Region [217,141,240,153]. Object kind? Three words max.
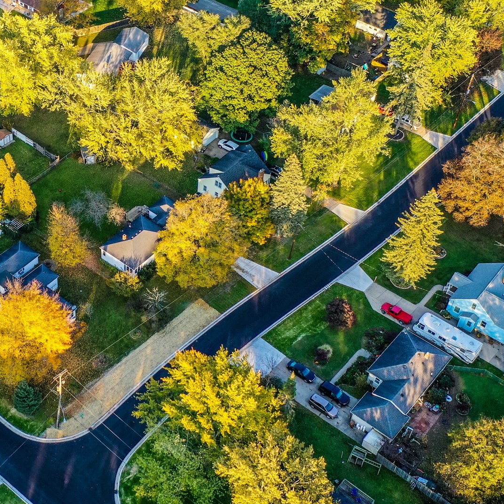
vehicle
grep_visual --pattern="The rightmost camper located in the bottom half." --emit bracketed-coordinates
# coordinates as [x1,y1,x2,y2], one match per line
[416,316,484,362]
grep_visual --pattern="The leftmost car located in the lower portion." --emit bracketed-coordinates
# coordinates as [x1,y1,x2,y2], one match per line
[286,362,316,384]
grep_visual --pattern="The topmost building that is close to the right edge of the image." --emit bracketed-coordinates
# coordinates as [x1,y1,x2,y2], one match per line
[445,262,504,344]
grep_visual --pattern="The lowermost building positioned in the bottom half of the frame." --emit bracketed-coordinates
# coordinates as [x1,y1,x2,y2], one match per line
[349,337,473,443]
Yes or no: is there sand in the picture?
No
